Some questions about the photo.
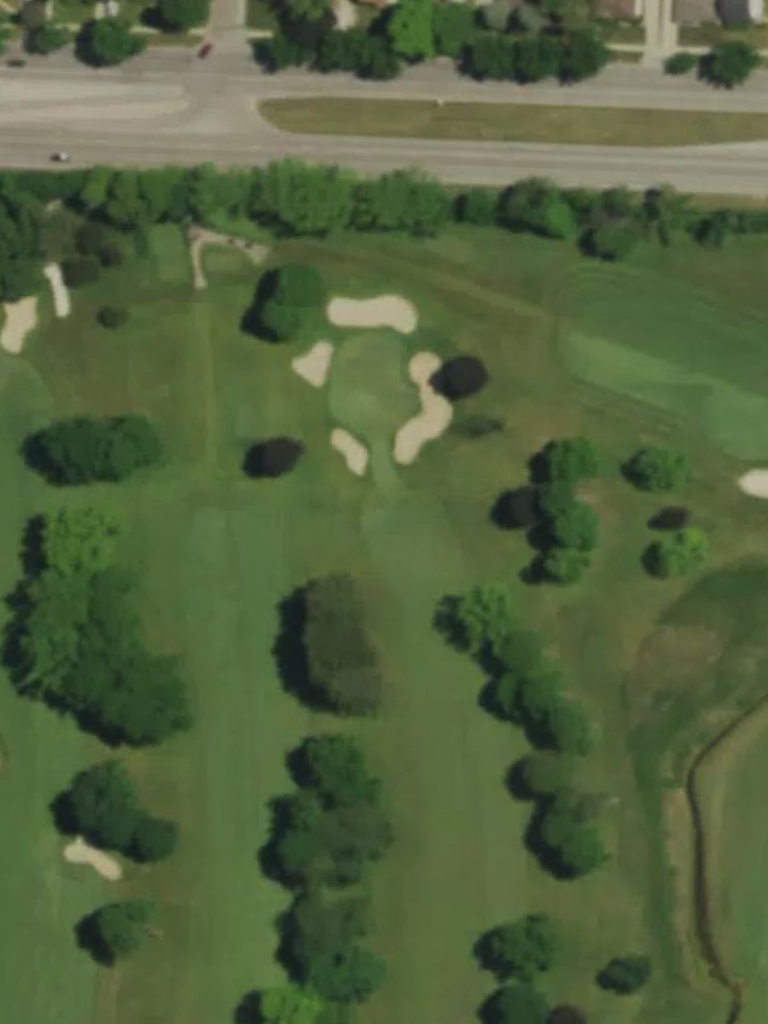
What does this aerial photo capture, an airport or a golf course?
golf course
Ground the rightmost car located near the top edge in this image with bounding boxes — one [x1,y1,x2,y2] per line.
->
[198,41,212,58]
